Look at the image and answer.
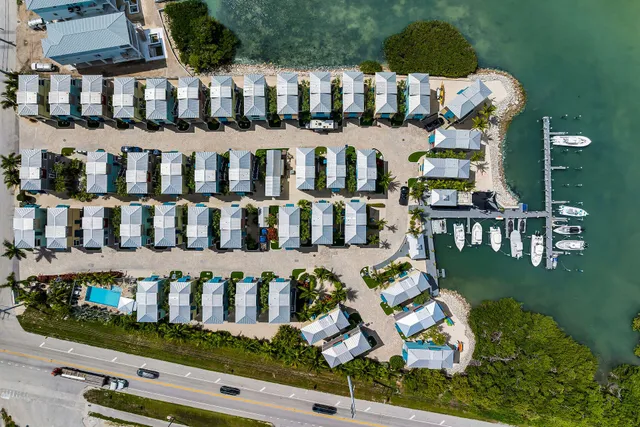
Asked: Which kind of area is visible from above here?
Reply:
residential area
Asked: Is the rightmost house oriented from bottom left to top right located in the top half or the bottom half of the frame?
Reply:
top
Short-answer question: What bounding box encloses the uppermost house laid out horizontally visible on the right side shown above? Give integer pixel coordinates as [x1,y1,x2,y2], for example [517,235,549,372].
[426,129,481,151]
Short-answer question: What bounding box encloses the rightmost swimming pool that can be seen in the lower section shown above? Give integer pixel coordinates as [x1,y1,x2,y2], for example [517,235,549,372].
[73,276,137,315]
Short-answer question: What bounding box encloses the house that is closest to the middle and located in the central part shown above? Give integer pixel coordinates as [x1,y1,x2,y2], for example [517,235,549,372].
[311,201,334,246]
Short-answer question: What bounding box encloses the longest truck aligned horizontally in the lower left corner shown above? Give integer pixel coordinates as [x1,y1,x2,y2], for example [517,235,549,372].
[56,366,131,394]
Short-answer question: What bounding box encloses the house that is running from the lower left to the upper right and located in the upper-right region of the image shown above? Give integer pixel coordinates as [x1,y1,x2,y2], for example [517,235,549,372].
[440,79,491,125]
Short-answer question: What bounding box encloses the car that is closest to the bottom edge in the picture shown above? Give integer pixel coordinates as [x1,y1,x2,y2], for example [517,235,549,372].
[312,401,337,415]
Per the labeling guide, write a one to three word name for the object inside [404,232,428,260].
building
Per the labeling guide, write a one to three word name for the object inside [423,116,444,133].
vehicle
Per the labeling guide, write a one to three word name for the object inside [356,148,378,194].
house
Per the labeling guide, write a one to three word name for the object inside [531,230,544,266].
boat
